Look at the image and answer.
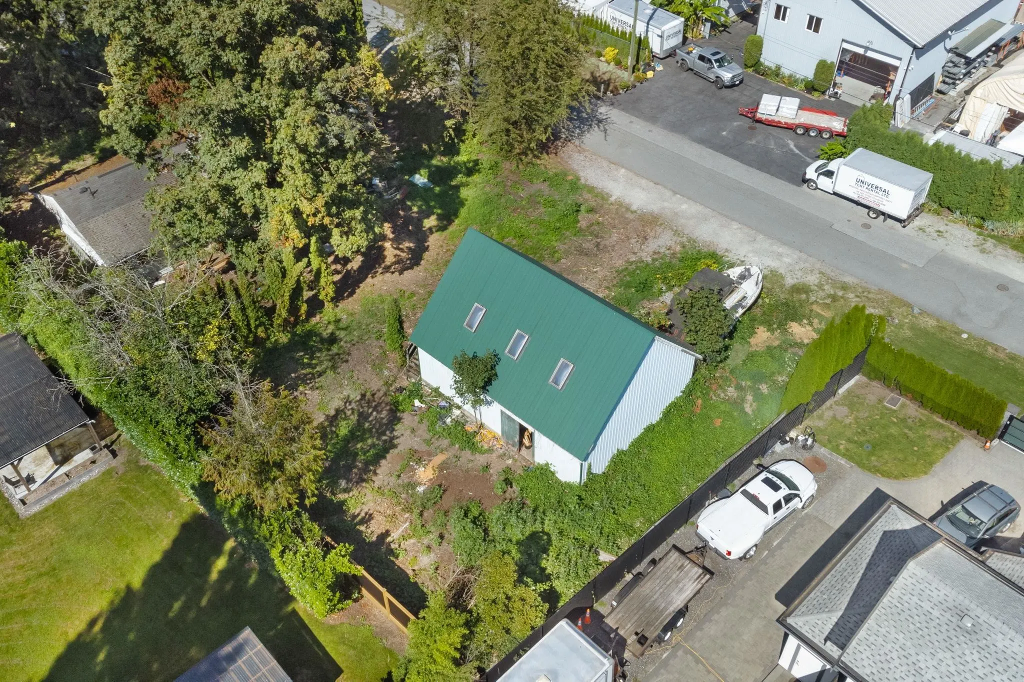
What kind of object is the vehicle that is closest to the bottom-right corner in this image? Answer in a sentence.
The vehicle that is closest to the bottom-right corner appears to be an automobile.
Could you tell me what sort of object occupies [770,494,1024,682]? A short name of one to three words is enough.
house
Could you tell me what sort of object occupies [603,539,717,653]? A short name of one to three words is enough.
trailer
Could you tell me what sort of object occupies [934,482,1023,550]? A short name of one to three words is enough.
car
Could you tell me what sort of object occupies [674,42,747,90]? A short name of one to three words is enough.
truck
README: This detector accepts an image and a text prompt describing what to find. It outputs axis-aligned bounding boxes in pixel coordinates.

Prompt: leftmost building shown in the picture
[0,326,105,520]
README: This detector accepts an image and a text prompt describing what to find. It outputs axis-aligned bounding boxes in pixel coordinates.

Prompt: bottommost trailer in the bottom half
[499,622,612,682]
